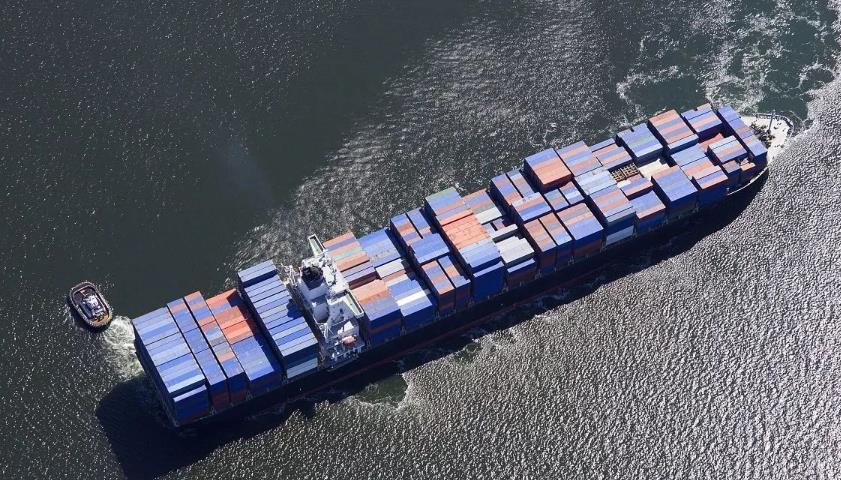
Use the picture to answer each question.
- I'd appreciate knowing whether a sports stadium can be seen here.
No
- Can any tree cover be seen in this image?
No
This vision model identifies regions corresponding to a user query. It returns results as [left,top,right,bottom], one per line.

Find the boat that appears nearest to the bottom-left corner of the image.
[67,284,117,335]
